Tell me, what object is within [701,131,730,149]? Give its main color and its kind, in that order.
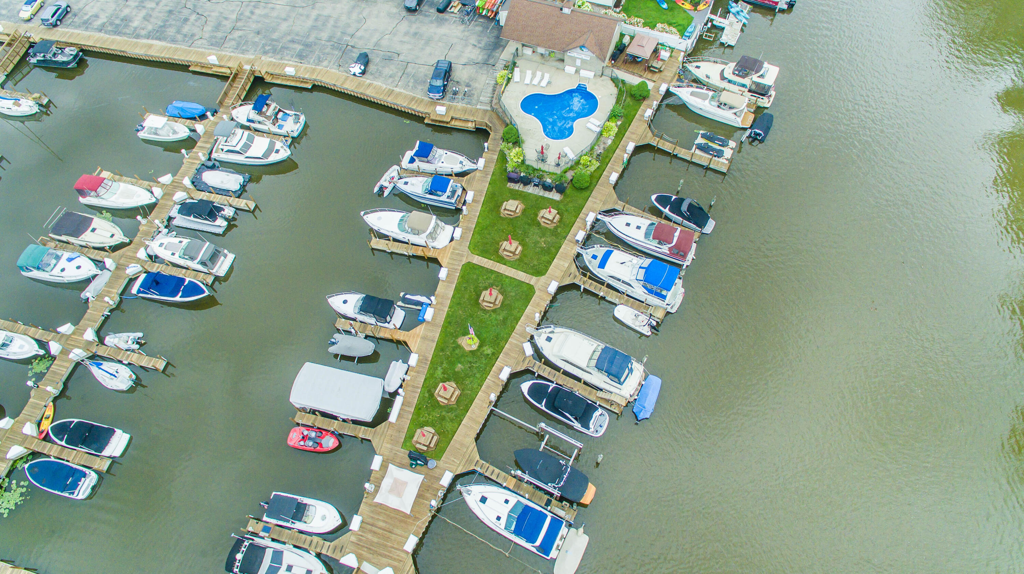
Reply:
blue vessel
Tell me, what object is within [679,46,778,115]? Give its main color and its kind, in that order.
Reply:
white boat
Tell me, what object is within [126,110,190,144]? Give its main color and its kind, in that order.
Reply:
white boat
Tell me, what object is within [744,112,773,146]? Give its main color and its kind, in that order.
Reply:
blue boat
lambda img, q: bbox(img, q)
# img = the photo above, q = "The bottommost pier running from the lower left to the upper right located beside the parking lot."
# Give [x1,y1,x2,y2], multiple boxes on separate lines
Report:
[0,108,233,489]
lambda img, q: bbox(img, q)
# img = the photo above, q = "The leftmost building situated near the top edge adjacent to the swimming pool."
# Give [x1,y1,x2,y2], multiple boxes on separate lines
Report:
[499,0,635,83]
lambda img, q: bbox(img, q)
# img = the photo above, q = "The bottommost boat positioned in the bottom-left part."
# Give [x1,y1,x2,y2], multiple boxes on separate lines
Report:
[218,524,333,574]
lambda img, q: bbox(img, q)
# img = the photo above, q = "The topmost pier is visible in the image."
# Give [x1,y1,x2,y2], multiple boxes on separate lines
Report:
[708,3,752,48]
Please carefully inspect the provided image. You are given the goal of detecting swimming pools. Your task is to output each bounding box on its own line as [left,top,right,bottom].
[519,72,600,141]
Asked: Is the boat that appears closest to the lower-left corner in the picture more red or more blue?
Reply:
blue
